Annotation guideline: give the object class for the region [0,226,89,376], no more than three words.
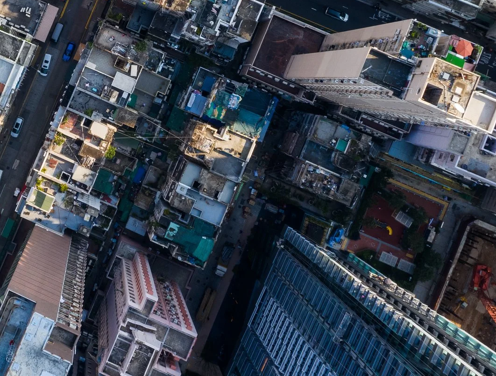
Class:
building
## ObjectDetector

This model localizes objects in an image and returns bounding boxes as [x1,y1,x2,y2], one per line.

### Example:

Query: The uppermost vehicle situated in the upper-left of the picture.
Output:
[50,21,65,44]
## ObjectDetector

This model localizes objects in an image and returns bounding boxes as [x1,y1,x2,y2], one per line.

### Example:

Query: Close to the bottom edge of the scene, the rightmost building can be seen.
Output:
[231,226,496,376]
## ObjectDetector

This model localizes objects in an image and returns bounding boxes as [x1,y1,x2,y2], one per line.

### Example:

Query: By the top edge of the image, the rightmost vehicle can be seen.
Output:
[324,8,348,23]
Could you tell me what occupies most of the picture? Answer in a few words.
buildings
